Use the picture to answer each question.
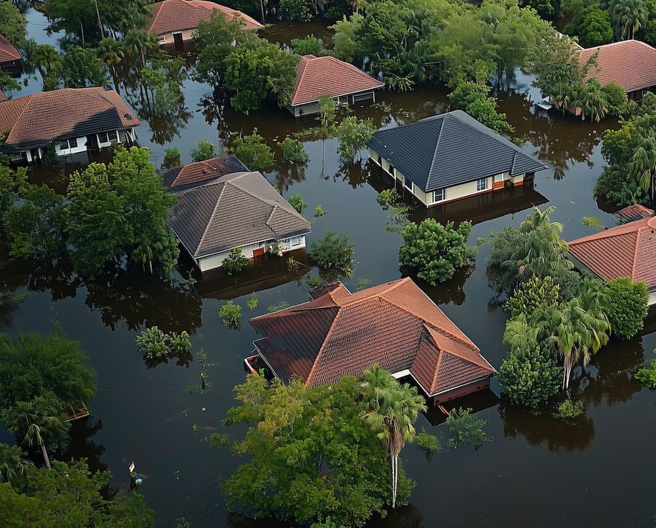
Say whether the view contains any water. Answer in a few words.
Yes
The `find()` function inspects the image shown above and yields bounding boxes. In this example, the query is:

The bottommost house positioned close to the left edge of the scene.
[0,86,141,163]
